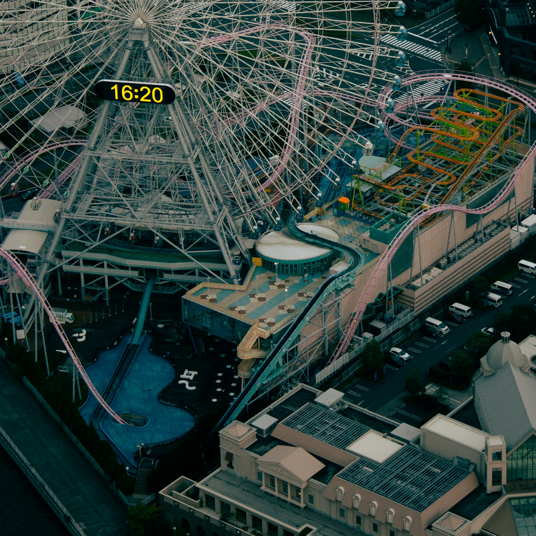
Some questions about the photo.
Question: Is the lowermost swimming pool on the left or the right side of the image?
left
